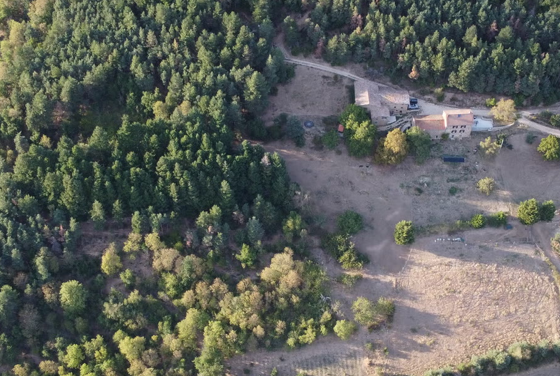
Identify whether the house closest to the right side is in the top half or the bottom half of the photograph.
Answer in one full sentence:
The house closest to the right side sits in the top half of the picture.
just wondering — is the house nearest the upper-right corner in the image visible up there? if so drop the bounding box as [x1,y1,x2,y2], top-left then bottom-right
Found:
[409,109,474,143]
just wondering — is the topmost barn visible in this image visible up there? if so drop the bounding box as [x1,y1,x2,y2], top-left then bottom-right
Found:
[351,79,410,122]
